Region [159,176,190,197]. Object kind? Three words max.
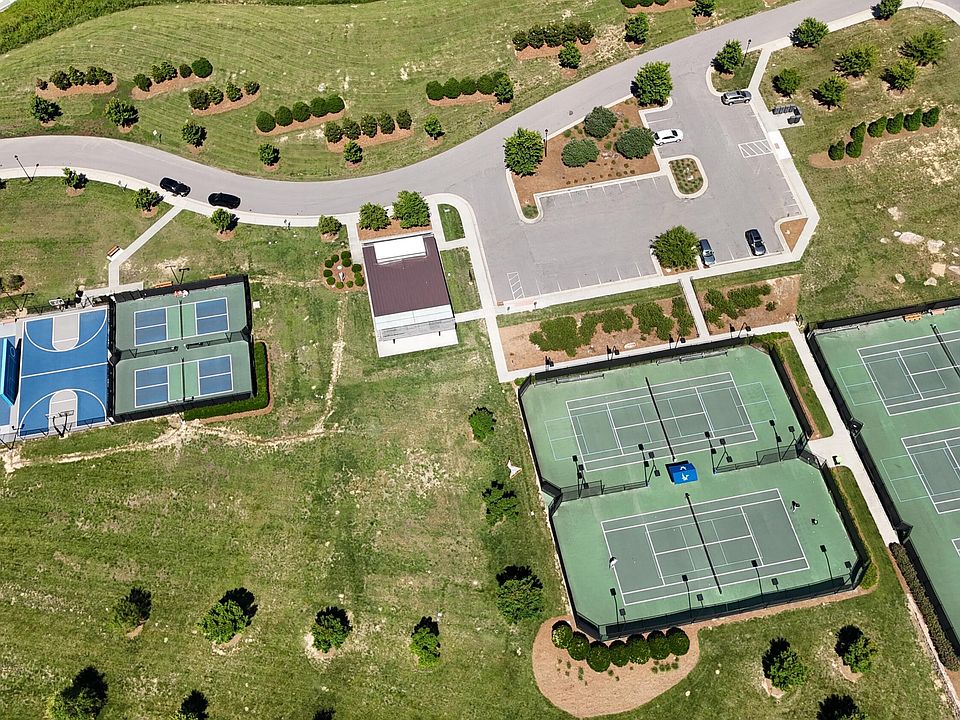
car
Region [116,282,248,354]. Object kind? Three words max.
sports court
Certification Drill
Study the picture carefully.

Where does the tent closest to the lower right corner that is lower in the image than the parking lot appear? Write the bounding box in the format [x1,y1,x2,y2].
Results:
[667,463,698,491]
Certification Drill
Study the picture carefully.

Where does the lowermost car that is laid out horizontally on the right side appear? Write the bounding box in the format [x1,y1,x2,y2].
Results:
[652,129,682,145]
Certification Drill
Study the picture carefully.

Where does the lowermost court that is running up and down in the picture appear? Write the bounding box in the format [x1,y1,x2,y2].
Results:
[898,523,960,667]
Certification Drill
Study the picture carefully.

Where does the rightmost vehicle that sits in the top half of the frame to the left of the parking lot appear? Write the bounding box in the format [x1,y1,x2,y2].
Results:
[209,193,241,209]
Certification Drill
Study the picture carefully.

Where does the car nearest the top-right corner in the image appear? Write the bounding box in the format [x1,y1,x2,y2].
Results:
[722,90,750,106]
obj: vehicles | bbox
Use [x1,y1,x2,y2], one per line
[698,239,716,267]
[722,90,750,106]
[652,129,682,145]
[159,176,190,197]
[745,230,765,256]
[209,193,241,209]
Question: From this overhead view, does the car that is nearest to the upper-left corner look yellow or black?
black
